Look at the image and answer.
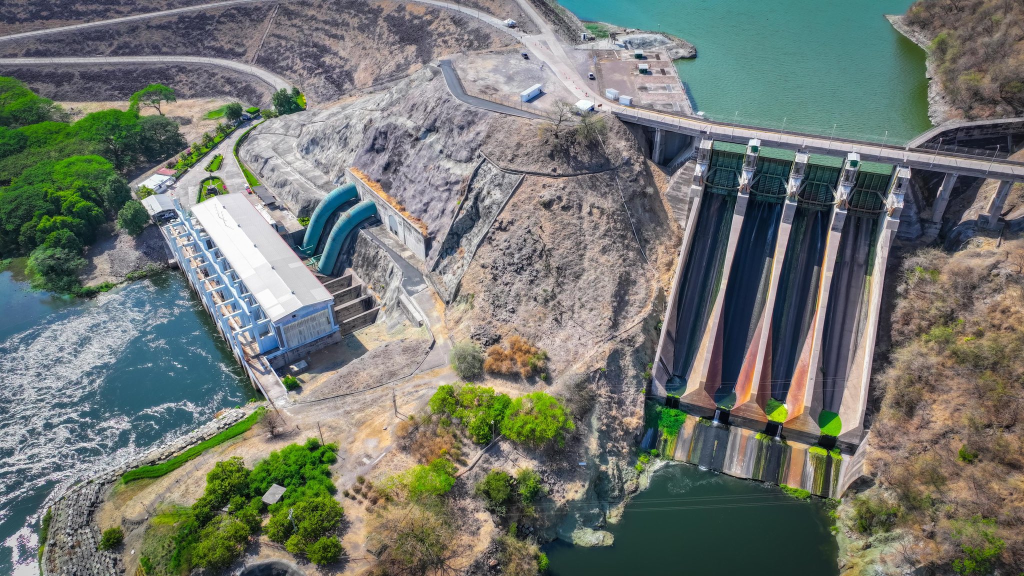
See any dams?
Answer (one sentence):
Yes, there's a dam down there.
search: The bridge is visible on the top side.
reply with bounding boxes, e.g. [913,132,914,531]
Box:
[610,102,1024,240]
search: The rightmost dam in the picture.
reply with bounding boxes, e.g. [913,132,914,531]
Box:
[633,142,905,503]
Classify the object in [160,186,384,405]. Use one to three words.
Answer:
building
